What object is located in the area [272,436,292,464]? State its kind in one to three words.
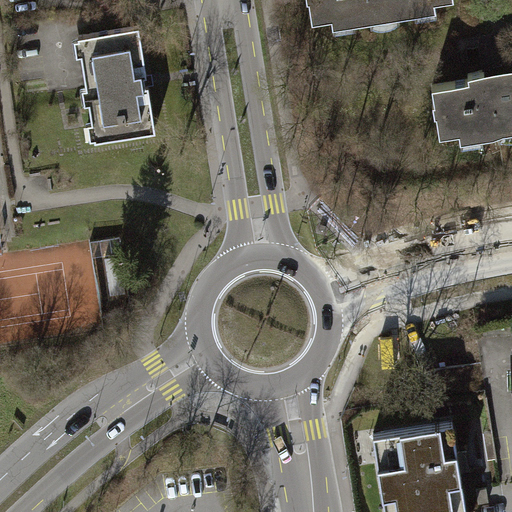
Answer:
vehicle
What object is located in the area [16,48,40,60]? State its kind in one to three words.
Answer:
vehicle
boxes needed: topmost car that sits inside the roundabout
[277,262,300,277]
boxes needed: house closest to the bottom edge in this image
[372,420,465,512]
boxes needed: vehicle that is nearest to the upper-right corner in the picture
[450,215,482,230]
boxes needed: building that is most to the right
[430,65,512,154]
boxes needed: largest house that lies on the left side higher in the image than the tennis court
[74,27,156,146]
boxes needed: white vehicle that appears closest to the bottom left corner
[105,420,126,439]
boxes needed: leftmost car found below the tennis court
[66,414,89,433]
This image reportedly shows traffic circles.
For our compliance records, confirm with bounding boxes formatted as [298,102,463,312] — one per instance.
[185,241,343,400]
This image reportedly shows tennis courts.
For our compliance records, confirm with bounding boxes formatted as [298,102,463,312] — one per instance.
[0,240,102,344]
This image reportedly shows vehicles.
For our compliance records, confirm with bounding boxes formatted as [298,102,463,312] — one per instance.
[264,166,276,190]
[18,28,39,39]
[450,215,482,230]
[14,1,36,12]
[164,478,176,499]
[322,306,332,330]
[66,414,89,433]
[178,477,188,496]
[190,474,202,498]
[204,473,214,488]
[310,380,320,404]
[277,262,300,277]
[428,230,438,250]
[105,420,126,439]
[482,504,504,512]
[272,436,292,464]
[16,48,40,60]
[406,324,426,361]
[216,470,226,491]
[240,0,250,14]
